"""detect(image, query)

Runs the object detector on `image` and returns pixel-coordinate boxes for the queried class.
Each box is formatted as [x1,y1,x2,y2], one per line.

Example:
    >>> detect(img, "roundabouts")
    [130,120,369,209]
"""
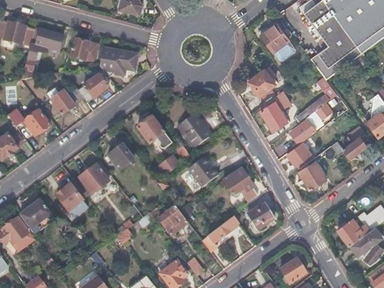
[158,11,235,88]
